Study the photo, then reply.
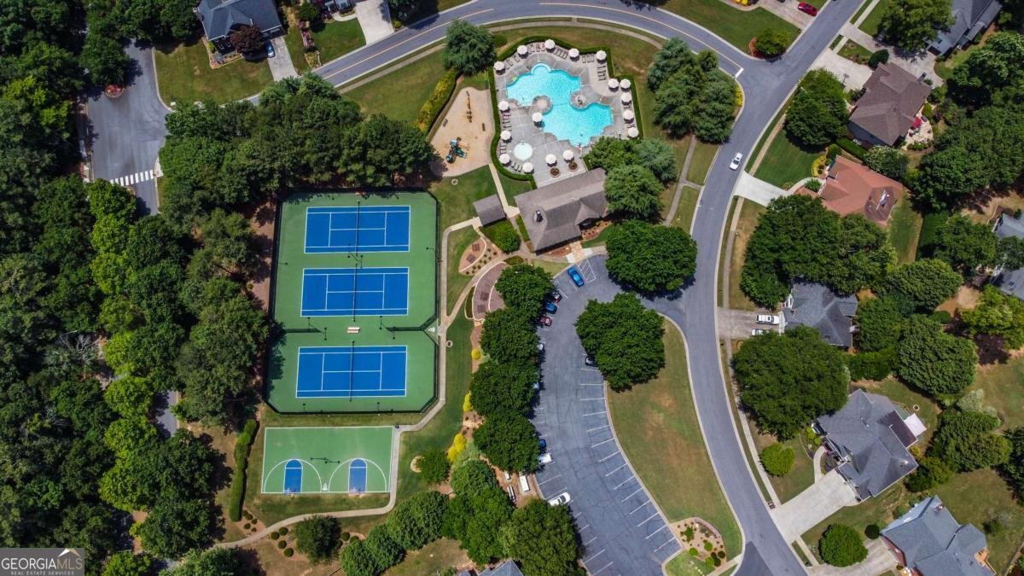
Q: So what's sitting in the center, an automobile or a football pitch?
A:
automobile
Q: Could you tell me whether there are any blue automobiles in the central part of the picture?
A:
Yes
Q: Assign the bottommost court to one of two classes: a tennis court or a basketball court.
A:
basketball court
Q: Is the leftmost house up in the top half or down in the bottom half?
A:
top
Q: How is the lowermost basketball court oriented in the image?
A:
horizontally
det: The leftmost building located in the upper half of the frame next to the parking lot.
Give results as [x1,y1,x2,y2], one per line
[515,171,611,254]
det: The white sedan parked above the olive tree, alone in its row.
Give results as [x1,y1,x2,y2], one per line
[548,491,571,507]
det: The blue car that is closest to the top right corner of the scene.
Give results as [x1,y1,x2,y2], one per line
[568,267,585,287]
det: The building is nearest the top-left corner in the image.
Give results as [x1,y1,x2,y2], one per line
[195,0,284,55]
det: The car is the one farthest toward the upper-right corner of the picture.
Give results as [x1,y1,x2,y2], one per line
[799,1,818,14]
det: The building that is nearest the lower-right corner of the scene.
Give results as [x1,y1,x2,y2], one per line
[877,496,997,576]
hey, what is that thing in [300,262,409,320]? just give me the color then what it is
blue tennis court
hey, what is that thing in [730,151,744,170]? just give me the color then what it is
white car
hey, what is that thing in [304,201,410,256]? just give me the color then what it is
blue tennis court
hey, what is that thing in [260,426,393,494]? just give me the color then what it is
green basketball court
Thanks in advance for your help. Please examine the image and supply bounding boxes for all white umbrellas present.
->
[494,62,505,73]
[568,48,579,59]
[498,154,510,165]
[620,79,631,90]
[621,93,632,104]
[622,110,634,121]
[608,78,619,90]
[532,112,543,123]
[595,50,606,61]
[498,101,509,111]
[563,150,574,161]
[627,127,639,138]
[501,131,512,142]
[544,40,555,51]
[517,45,528,56]
[522,162,533,173]
[546,155,557,166]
